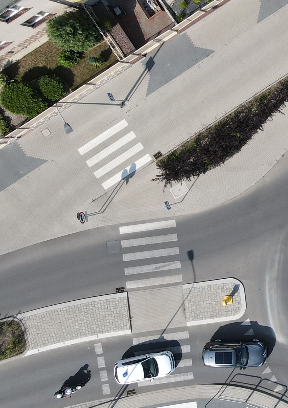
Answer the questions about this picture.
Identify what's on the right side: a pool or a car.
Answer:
car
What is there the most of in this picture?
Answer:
paved ground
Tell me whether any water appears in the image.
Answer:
No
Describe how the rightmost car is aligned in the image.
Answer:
from left to right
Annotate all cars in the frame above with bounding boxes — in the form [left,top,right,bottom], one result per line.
[114,348,178,381]
[200,337,270,371]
